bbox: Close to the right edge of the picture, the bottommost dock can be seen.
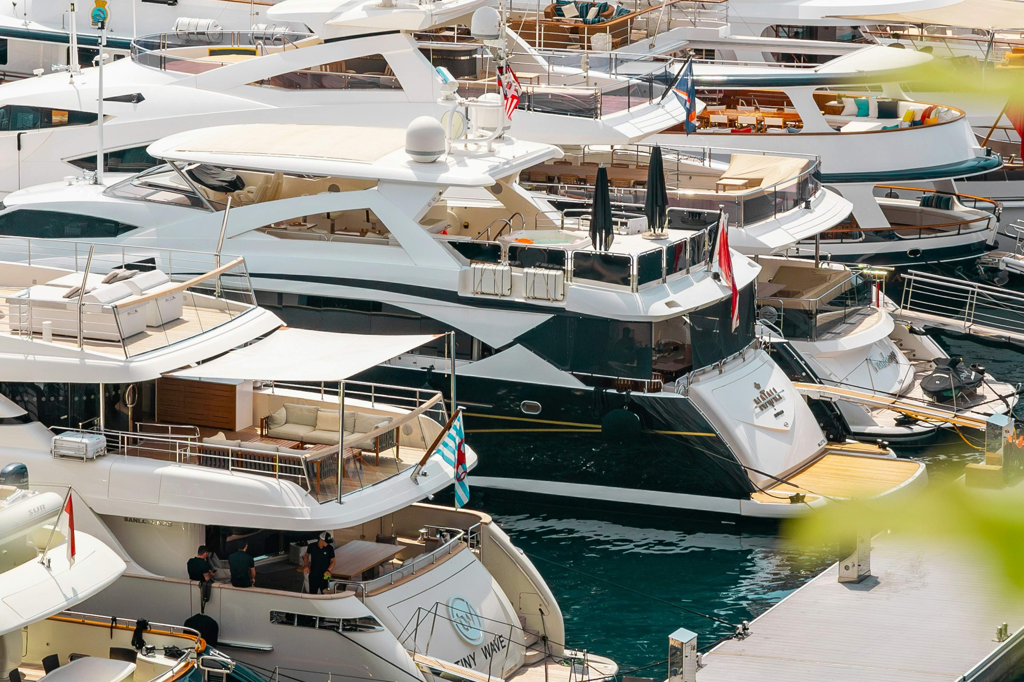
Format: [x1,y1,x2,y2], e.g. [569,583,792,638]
[696,408,1024,682]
